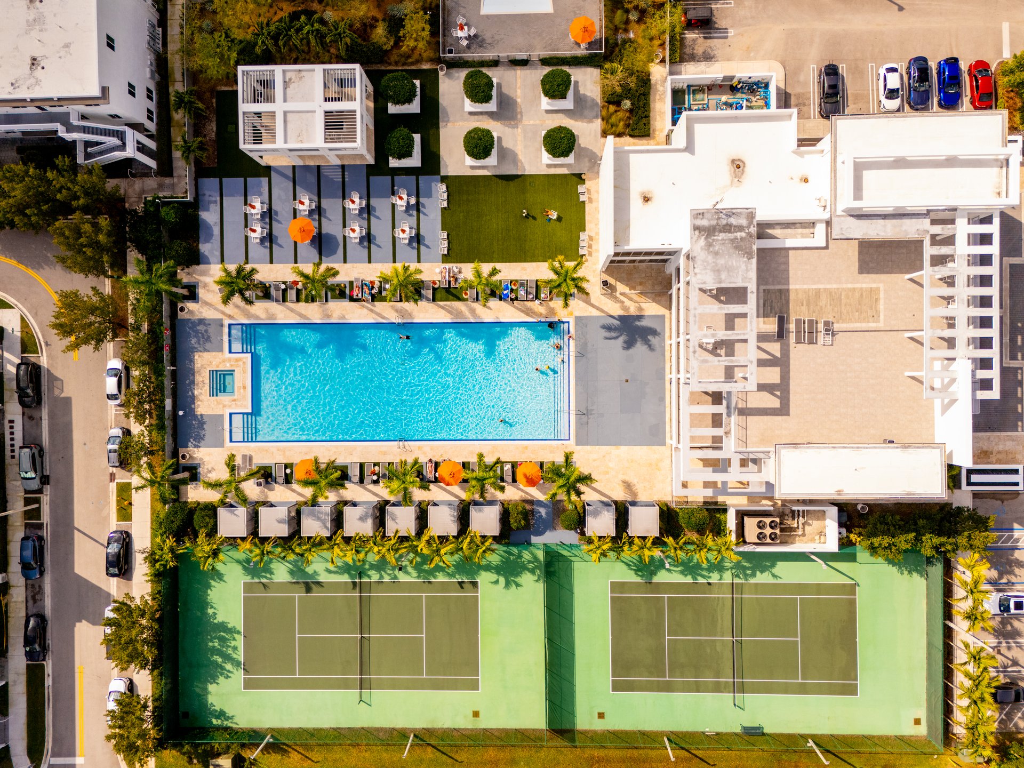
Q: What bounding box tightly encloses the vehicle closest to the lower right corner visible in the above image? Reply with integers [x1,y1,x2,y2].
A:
[989,682,1024,705]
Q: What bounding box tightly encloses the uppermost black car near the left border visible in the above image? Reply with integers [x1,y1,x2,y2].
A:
[15,363,42,407]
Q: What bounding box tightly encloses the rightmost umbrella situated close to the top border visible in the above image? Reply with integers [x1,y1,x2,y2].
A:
[569,17,596,45]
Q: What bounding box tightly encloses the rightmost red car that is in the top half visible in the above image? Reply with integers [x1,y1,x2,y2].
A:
[966,60,994,111]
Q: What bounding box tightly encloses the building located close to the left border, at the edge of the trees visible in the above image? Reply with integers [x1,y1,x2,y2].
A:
[0,0,161,169]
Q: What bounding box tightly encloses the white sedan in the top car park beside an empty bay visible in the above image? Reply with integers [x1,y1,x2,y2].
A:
[876,63,903,113]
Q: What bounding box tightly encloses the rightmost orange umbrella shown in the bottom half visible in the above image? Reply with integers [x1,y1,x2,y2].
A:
[515,460,542,488]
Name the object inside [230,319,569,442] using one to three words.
swimming pool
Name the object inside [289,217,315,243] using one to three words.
umbrella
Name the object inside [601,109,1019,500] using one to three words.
building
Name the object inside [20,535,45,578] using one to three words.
car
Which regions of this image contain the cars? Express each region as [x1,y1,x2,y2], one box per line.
[20,535,45,578]
[989,682,1024,705]
[876,63,903,113]
[935,57,963,109]
[105,530,130,577]
[15,363,42,407]
[966,60,994,111]
[103,359,128,404]
[105,427,130,468]
[818,59,844,118]
[19,446,45,490]
[905,56,933,110]
[23,613,48,661]
[106,676,132,724]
